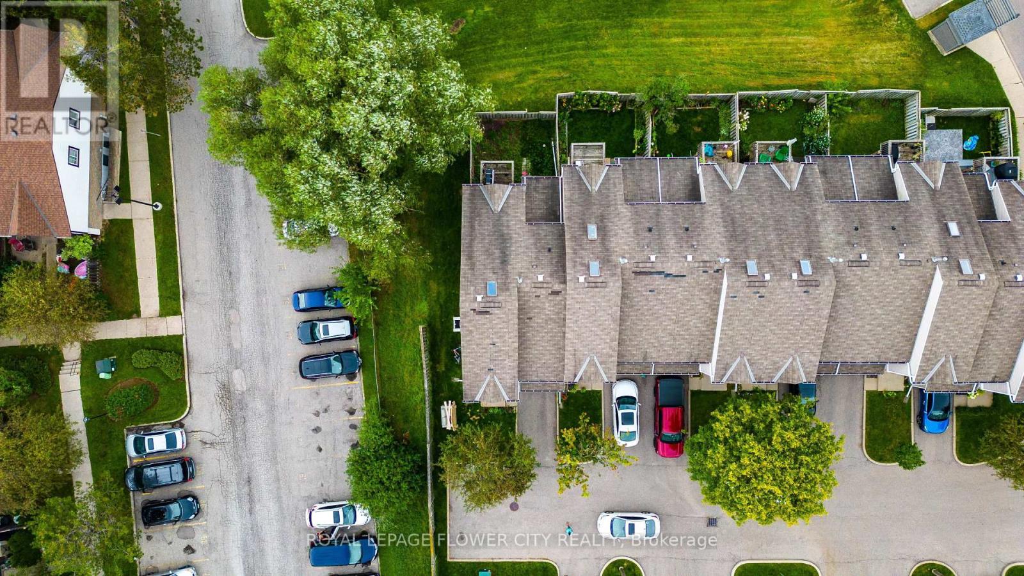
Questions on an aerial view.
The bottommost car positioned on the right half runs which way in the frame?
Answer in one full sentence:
In this picture, the bottommost car positioned on the right half lies from side to side.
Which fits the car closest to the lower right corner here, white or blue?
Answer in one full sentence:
In this view, the car closest to the lower right corner is blue.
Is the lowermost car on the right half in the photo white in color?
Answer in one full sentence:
Yes, the lowermost car on the right half appears white.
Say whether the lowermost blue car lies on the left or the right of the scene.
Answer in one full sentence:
The lowermost blue car is on the left side of the image.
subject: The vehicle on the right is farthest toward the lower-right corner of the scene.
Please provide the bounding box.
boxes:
[917,387,954,432]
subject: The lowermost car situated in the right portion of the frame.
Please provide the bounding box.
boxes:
[597,509,660,541]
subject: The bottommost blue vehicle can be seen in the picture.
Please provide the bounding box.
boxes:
[308,531,380,567]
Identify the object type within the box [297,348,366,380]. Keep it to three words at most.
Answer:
car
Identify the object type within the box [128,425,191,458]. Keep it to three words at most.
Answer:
car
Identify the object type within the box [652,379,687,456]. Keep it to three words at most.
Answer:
truck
